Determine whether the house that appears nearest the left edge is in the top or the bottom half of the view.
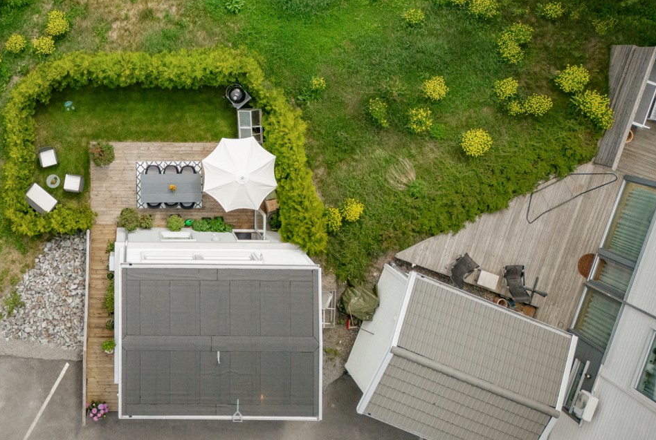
bottom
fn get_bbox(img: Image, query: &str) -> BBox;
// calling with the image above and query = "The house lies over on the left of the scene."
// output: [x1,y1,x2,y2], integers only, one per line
[114,208,325,425]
